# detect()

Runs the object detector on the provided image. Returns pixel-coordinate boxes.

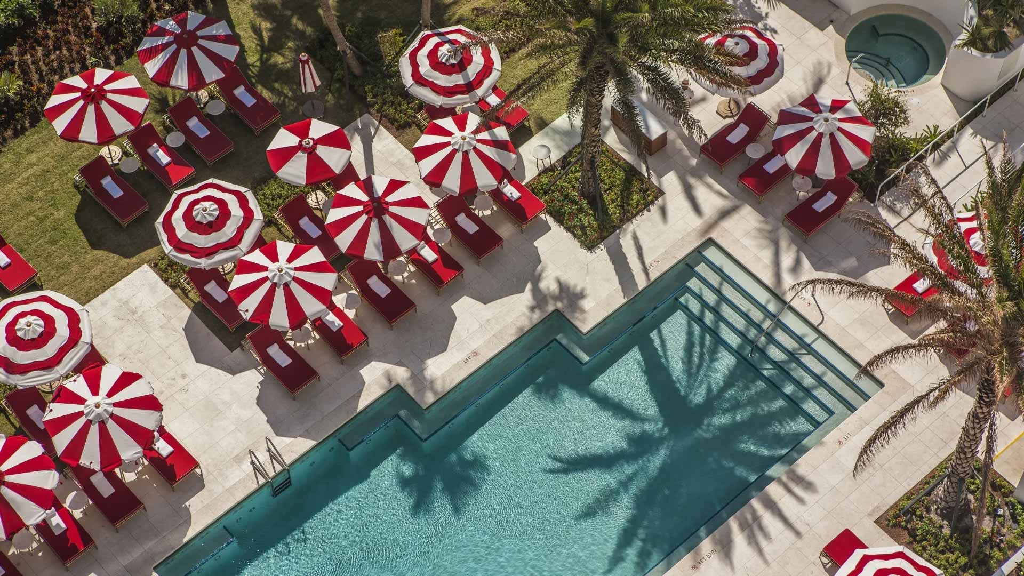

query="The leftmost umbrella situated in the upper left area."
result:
[45,64,151,165]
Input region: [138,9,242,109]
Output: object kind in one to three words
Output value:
umbrella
